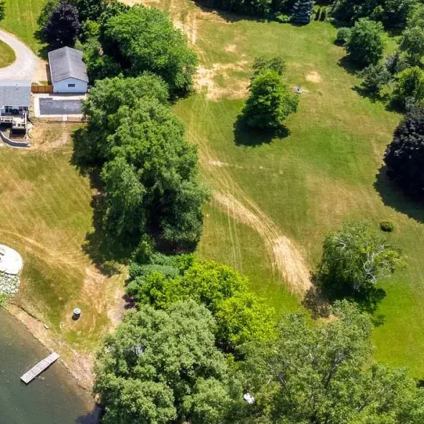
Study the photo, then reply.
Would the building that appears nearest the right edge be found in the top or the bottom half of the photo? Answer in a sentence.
The top half of the photo is where the building that appears nearest the right edge is.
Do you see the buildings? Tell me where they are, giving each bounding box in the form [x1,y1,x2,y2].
[0,79,31,141]
[49,46,88,91]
